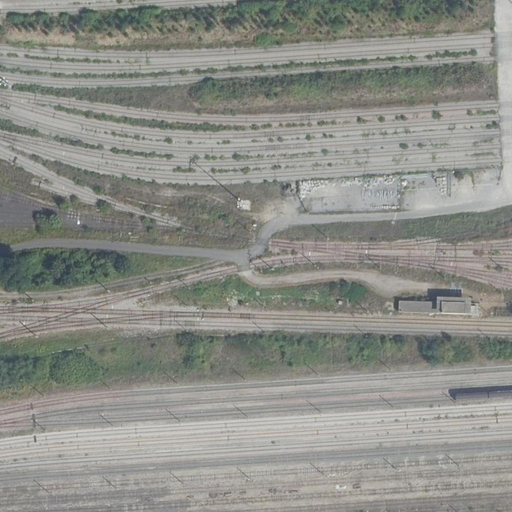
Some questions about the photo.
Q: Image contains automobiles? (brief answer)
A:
No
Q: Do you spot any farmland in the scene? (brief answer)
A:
No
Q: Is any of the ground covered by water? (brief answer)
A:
No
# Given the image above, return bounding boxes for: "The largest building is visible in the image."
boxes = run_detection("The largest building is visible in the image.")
[436,298,474,314]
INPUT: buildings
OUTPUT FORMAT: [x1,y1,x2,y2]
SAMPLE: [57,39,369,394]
[436,298,474,314]
[400,300,434,312]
